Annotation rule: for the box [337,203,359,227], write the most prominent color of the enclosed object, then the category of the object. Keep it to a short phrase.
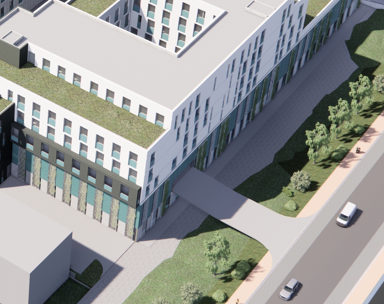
white vehicle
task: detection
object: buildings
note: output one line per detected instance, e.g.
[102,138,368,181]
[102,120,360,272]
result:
[0,0,340,243]
[0,191,73,304]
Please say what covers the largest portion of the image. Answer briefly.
buildings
